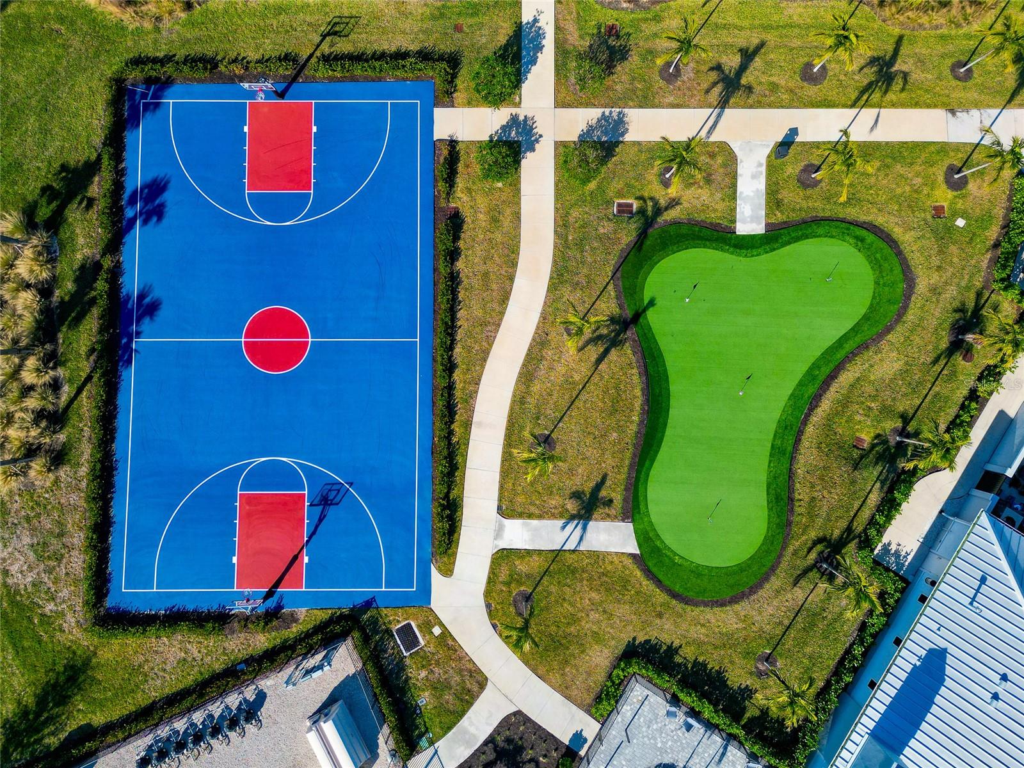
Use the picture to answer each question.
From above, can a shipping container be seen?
No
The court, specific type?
basketball court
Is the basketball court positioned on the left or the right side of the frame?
left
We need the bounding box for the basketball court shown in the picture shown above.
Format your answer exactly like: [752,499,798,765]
[107,80,434,608]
